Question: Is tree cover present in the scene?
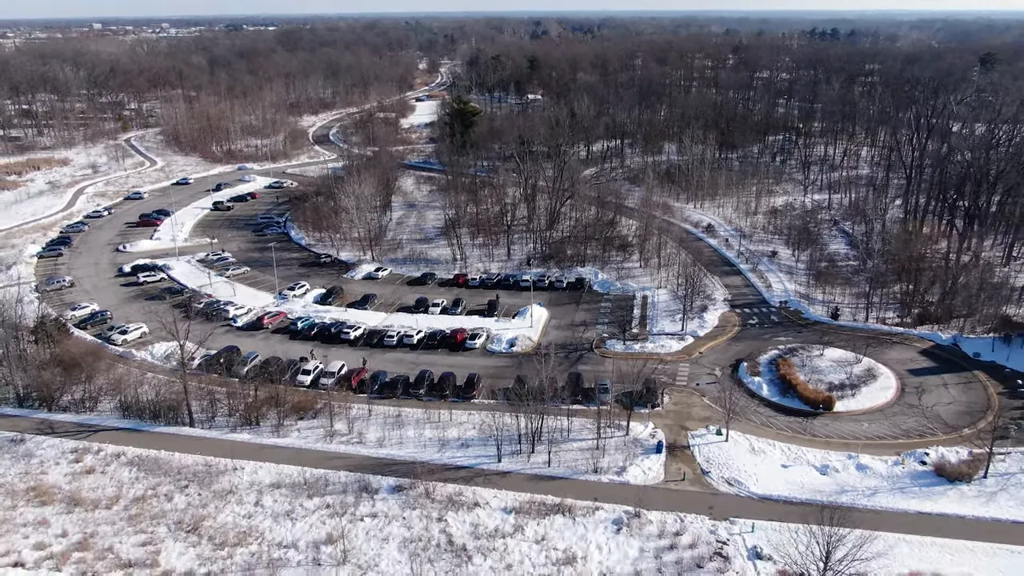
Yes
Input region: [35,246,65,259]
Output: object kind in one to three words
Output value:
vehicle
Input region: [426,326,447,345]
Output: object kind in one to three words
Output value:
car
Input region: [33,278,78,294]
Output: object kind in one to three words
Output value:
car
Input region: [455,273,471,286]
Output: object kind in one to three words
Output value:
vehicle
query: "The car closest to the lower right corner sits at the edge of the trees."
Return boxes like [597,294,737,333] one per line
[638,372,660,405]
